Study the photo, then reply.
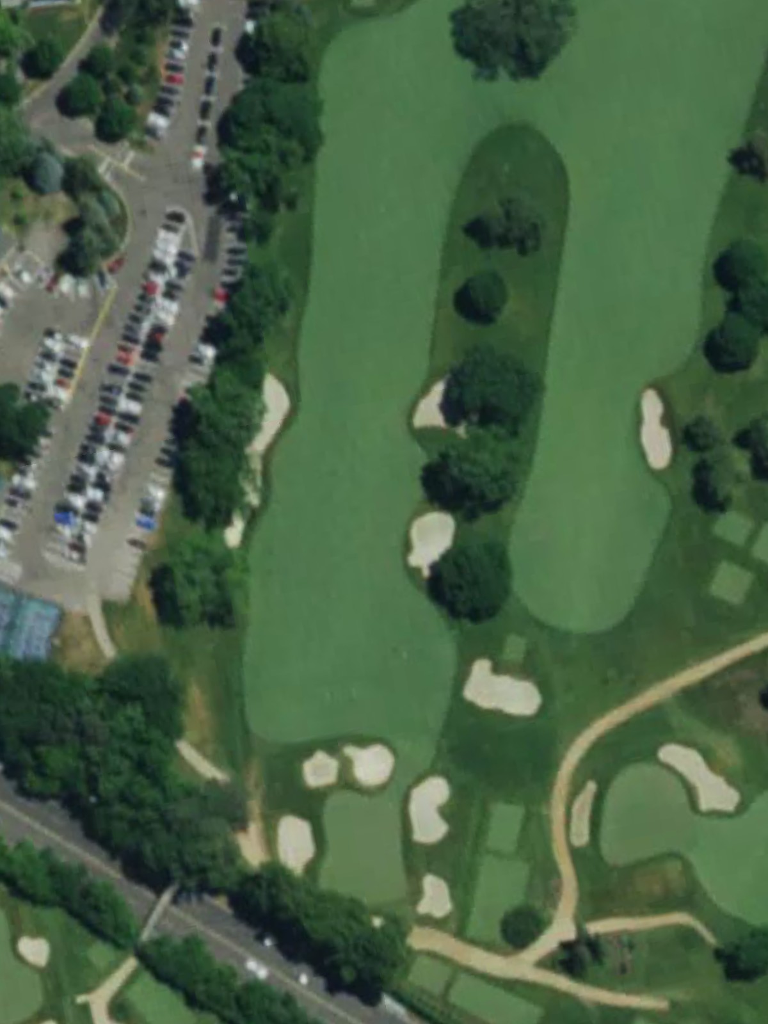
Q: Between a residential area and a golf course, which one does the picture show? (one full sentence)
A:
It's a golf course.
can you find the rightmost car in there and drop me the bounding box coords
[294,971,312,985]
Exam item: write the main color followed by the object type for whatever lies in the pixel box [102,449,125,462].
white vehicle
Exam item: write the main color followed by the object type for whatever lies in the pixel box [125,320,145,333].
gray vehicle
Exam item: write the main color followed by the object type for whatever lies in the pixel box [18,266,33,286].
white car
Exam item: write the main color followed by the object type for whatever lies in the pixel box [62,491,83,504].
white vehicle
